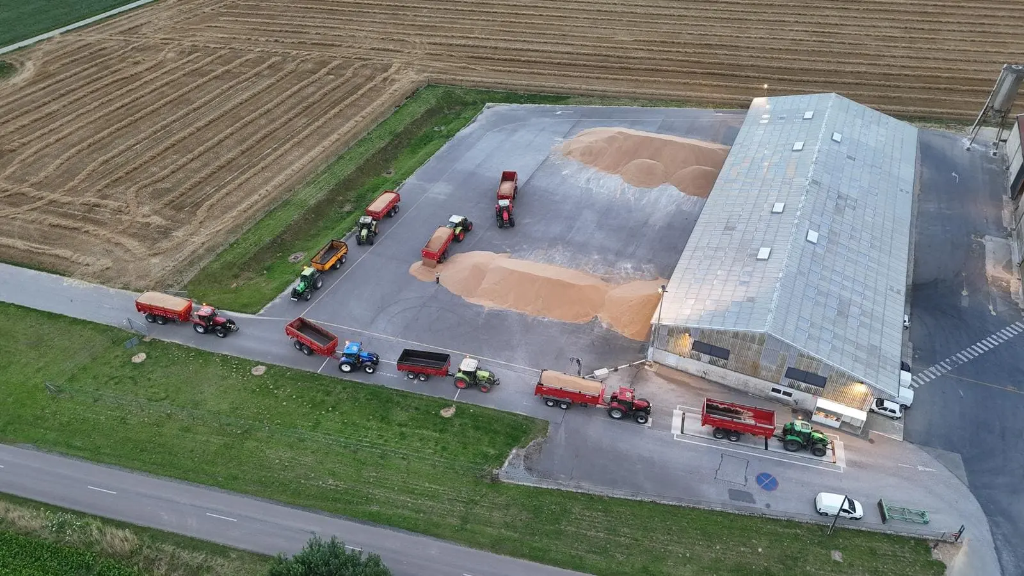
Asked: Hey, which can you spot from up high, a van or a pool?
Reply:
van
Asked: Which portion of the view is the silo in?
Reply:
top right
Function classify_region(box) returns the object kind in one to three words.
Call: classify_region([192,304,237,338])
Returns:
work vehicle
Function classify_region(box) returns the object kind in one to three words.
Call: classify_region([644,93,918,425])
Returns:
building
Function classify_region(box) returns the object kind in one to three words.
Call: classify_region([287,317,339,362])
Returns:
trailer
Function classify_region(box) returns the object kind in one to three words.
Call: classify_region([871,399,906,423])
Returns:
car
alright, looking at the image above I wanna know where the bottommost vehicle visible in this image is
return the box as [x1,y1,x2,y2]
[815,495,863,523]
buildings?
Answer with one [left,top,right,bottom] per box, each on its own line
[644,93,918,425]
[1003,110,1024,367]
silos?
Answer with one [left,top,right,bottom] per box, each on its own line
[968,60,1024,152]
